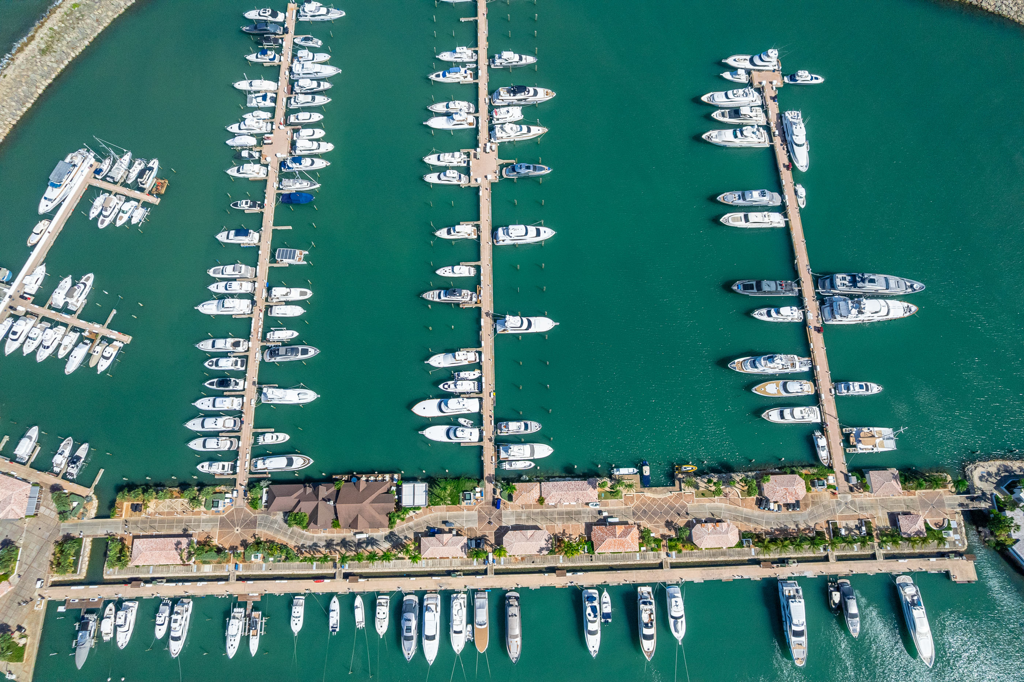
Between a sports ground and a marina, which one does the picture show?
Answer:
marina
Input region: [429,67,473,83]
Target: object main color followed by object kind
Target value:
white boat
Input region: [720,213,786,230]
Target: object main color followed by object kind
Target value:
white boat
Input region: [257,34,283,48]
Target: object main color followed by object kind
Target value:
black boat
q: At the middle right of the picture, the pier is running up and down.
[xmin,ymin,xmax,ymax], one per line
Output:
[750,69,847,469]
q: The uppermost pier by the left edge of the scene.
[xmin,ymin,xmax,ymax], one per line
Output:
[0,157,161,354]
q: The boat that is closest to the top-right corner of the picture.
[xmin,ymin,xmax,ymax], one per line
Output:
[784,73,824,85]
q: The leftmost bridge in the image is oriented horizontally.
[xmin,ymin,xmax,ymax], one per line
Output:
[59,519,112,535]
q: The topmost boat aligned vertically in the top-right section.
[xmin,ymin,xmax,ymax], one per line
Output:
[787,109,810,172]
